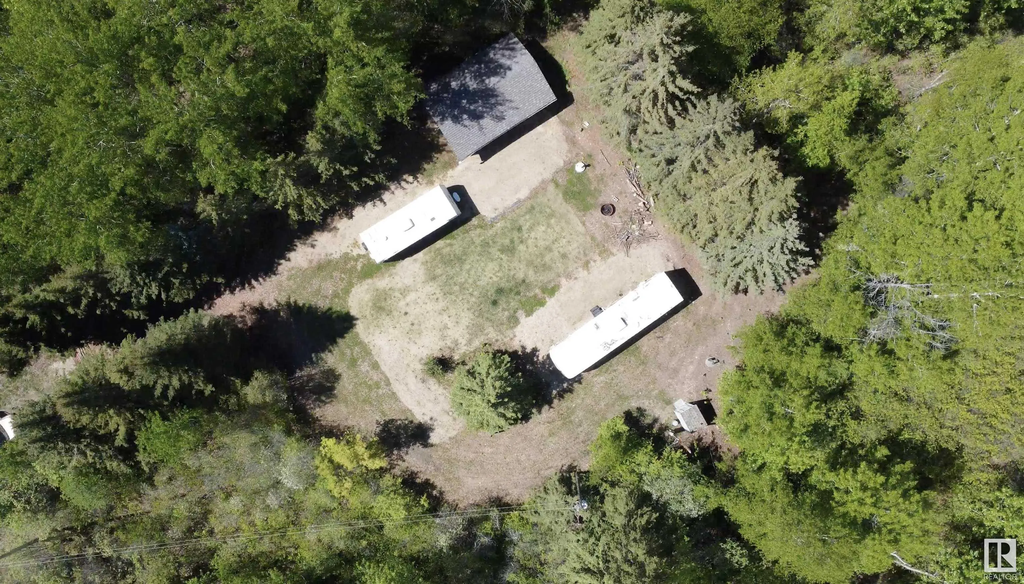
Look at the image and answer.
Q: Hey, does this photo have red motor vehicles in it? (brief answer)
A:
No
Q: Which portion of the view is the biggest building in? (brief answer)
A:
top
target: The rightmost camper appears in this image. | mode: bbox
[552,273,685,378]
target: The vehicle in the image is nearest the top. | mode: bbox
[361,184,470,263]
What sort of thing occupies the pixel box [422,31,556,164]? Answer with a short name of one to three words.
building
